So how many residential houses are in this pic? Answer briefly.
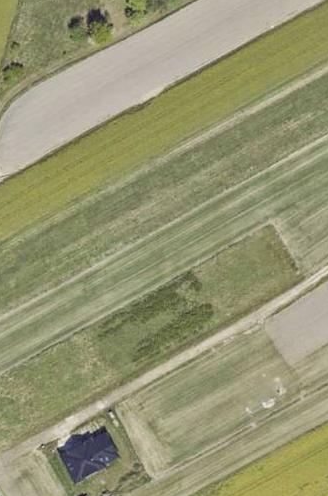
one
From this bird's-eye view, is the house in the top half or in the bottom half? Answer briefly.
bottom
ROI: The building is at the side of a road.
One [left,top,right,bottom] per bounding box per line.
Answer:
[59,427,117,484]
